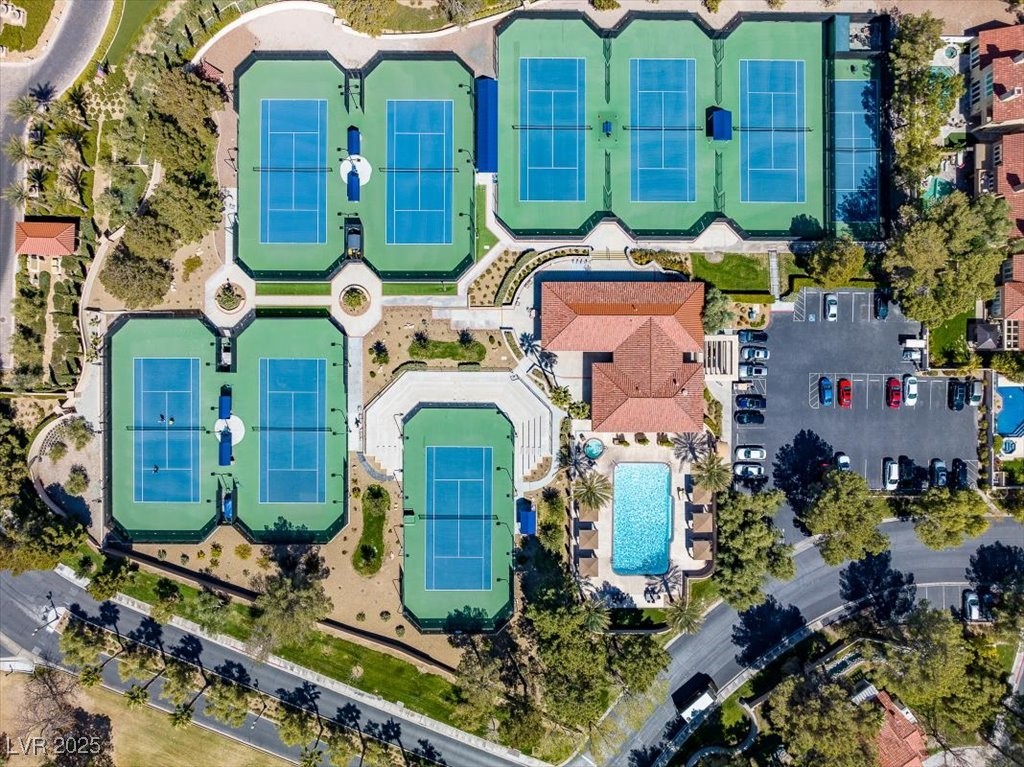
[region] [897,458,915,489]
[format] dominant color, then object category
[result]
black car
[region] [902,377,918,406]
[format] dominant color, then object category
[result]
white car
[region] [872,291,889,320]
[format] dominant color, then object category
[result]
black car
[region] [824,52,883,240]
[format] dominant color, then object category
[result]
blue tennis court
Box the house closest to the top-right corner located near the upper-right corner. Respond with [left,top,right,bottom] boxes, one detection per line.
[969,24,1024,74]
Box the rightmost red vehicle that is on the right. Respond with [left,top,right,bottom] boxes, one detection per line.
[885,378,901,407]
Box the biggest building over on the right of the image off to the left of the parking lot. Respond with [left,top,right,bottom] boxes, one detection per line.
[541,281,705,432]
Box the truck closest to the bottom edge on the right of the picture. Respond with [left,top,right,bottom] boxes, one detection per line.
[678,677,721,724]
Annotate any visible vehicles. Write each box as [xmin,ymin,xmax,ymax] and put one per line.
[912,466,929,495]
[947,378,967,410]
[678,677,721,724]
[835,453,851,482]
[735,447,765,461]
[737,330,767,344]
[902,377,918,406]
[736,382,750,391]
[818,378,833,406]
[897,458,915,489]
[733,396,766,409]
[882,460,899,489]
[738,364,766,377]
[965,379,982,407]
[823,294,838,322]
[963,590,981,620]
[733,411,763,425]
[740,348,768,360]
[930,458,946,489]
[837,380,852,408]
[885,378,901,407]
[980,589,995,622]
[733,464,763,477]
[951,460,968,488]
[872,291,889,320]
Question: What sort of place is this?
sports ground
